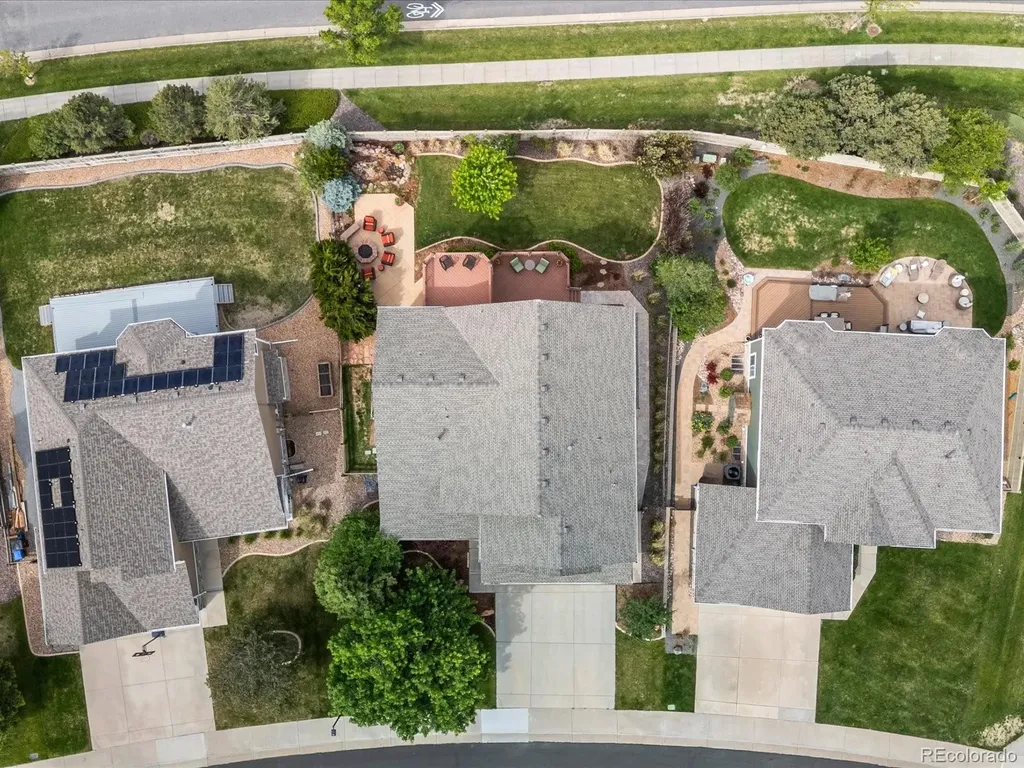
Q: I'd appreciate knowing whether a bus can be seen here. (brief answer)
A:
No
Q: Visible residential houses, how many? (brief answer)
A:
3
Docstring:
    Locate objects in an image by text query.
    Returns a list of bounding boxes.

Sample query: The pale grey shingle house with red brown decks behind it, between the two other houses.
[373,299,639,586]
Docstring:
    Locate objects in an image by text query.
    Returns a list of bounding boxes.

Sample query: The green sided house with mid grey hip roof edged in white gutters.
[688,318,1007,616]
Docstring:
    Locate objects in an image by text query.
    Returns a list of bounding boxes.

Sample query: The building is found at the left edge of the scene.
[21,317,307,647]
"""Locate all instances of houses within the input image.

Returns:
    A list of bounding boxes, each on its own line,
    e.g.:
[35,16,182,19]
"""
[21,317,307,647]
[373,299,639,586]
[688,318,1007,616]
